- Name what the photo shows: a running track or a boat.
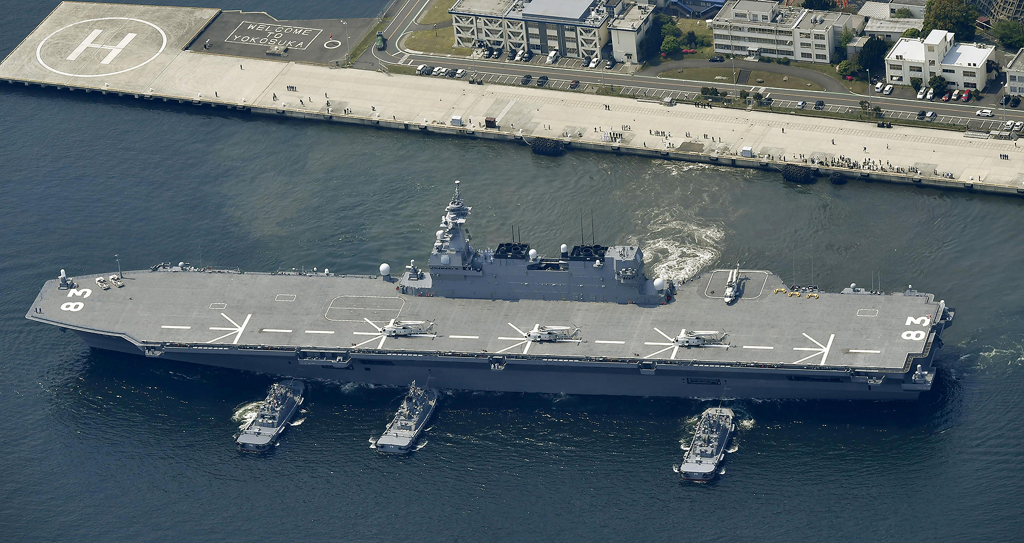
boat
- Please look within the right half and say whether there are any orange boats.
No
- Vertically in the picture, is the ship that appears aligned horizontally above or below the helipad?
below it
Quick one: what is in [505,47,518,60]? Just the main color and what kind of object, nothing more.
black vehicle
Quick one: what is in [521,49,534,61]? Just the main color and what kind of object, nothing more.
black vehicle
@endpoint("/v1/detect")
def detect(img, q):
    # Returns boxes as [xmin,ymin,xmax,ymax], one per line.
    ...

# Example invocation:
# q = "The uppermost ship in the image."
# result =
[26,180,956,399]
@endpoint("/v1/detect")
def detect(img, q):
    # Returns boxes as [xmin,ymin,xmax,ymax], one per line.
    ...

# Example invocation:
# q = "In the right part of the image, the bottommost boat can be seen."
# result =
[679,400,735,483]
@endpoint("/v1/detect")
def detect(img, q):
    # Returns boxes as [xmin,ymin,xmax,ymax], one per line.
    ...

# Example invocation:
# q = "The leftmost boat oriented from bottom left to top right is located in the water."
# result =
[234,371,303,452]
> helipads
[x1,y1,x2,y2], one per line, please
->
[0,0,220,96]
